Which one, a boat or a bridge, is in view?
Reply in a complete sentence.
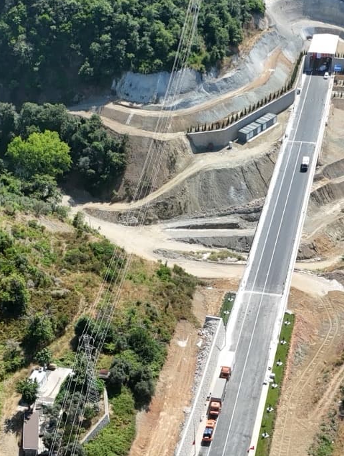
This aerial view contains a bridge.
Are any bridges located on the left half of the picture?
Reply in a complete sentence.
No, there is no bridge on the left half of the picture.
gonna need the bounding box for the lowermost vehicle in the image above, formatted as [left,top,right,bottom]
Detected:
[198,415,216,441]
